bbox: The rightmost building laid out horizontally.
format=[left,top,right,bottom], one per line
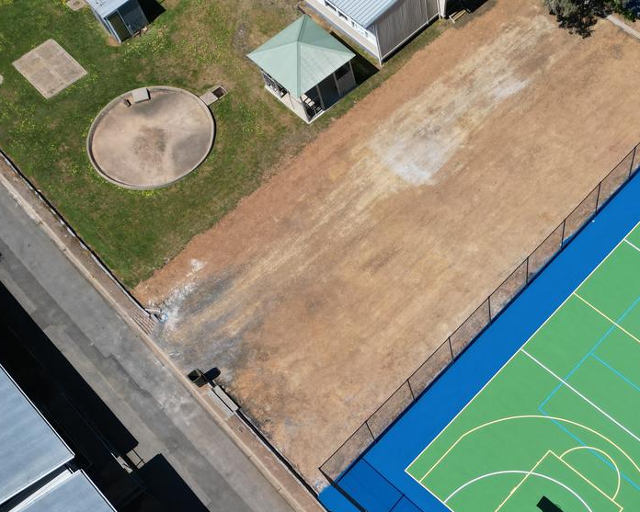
[304,0,446,64]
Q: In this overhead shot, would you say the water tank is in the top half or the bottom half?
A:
top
